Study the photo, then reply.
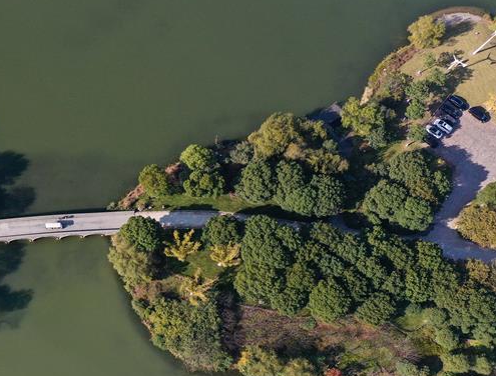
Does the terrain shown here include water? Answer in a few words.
Yes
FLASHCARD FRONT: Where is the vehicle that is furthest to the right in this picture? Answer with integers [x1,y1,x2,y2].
[467,106,489,124]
